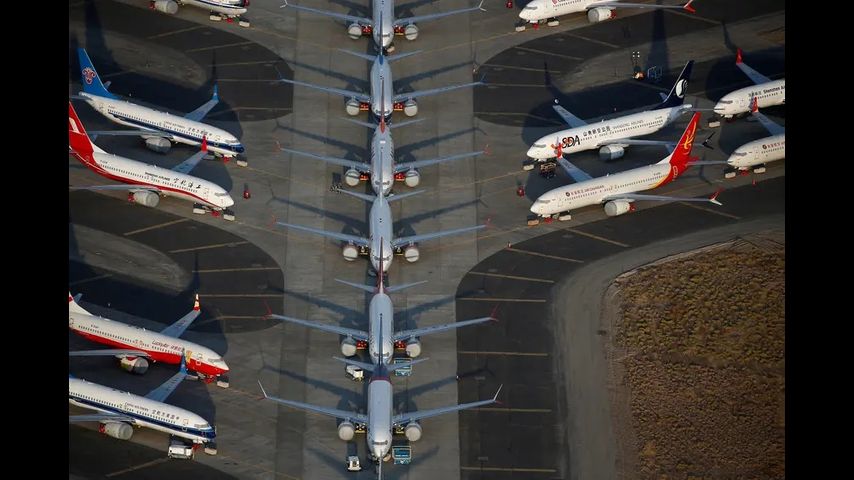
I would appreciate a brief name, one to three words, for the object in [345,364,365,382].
vehicle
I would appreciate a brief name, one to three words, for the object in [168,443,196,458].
vehicle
